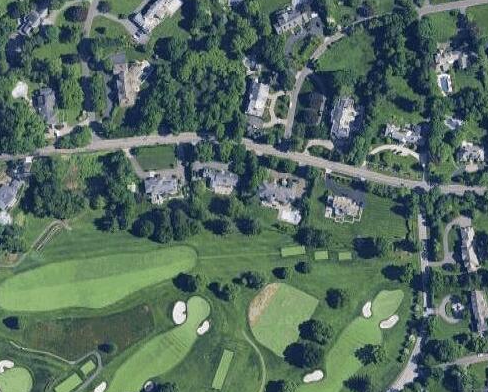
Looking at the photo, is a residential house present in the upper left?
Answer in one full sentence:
Yes, looking in the upper left, one can make out a residential house.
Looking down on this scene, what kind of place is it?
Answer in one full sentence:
The area seen from above is a golf course.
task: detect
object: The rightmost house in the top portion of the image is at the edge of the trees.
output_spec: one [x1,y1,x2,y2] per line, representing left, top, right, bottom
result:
[458,142,484,164]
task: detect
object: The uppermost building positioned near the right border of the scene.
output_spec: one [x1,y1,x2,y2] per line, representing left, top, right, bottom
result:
[432,48,468,66]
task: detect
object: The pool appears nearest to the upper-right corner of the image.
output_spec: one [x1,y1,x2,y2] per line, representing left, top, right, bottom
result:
[438,74,453,94]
